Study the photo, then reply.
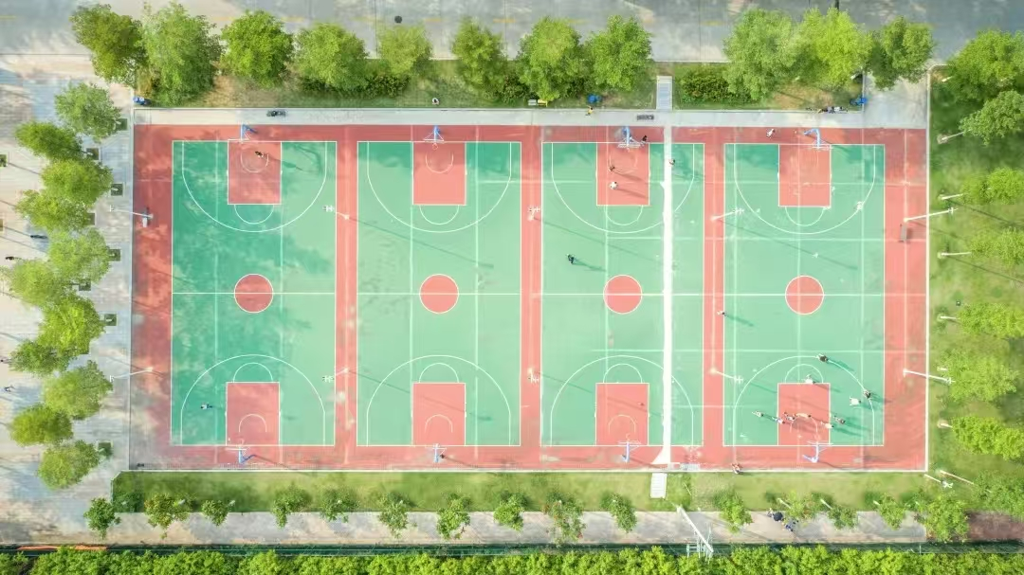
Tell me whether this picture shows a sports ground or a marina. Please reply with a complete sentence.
This looks like a sports ground.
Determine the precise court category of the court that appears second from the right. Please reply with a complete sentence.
Specifically, the court that appears second from the right is a basketball court.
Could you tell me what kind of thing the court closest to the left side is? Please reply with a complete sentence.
The court closest to the left side in the image is a basketball court.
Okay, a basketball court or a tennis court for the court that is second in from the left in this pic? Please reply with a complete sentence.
The court that is second in from the left can be classified as a basketball court.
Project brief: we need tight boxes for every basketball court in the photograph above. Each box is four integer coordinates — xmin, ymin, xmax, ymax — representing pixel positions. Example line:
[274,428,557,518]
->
[541,142,704,446]
[723,143,885,446]
[356,141,521,446]
[170,140,337,446]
